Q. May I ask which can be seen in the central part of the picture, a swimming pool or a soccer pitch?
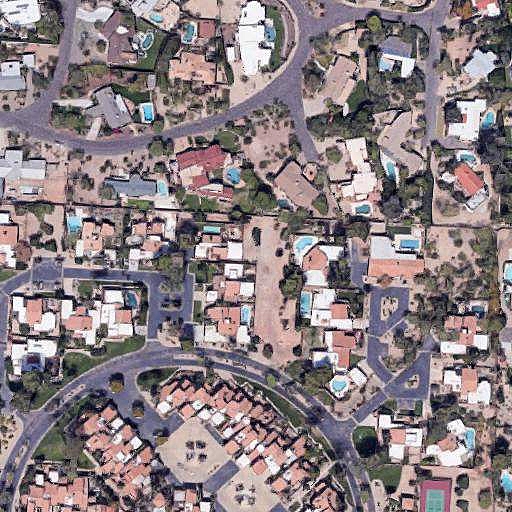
swimming pool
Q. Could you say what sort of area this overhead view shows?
residential area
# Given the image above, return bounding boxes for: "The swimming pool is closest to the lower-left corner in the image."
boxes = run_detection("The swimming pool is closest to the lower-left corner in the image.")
[124,290,139,311]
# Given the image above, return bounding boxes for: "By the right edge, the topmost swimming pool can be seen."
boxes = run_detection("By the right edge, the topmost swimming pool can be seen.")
[480,108,496,128]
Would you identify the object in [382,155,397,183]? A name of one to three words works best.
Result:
swimming pool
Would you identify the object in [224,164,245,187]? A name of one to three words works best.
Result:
swimming pool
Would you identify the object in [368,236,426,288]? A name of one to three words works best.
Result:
house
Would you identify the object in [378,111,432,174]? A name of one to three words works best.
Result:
house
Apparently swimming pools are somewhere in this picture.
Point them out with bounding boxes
[470,302,488,318]
[382,155,397,183]
[500,469,512,494]
[224,164,245,187]
[241,304,252,324]
[124,290,139,311]
[464,428,476,452]
[140,32,154,50]
[300,290,312,318]
[328,374,350,396]
[377,58,395,74]
[202,226,222,234]
[458,150,479,166]
[182,22,198,44]
[149,12,164,22]
[480,108,496,128]
[157,177,168,198]
[394,235,422,252]
[294,236,318,256]
[67,208,82,234]
[264,20,276,42]
[140,103,154,123]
